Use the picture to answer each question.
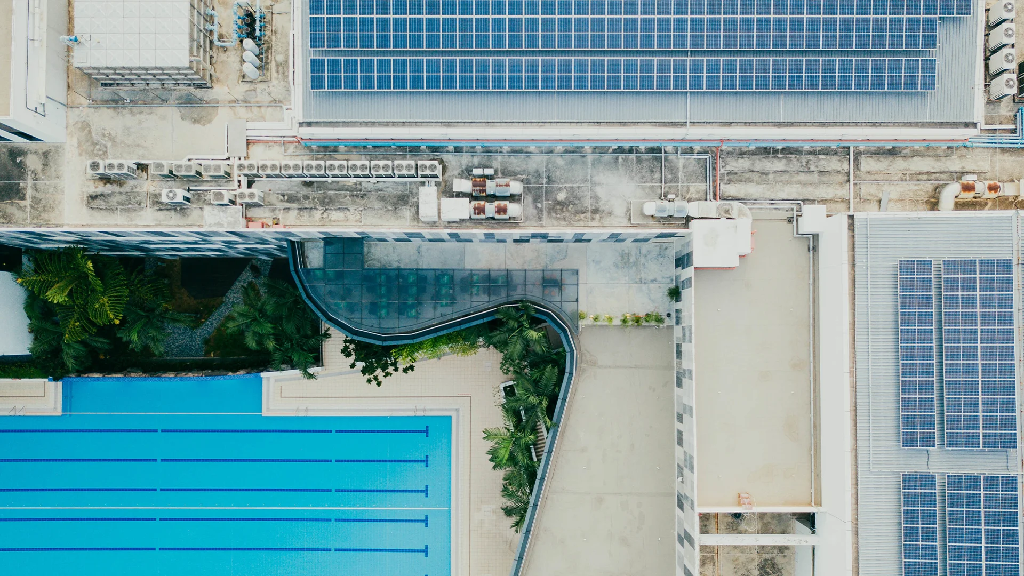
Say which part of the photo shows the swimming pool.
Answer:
bottom left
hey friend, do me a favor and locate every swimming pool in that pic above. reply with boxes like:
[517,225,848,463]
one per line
[0,373,452,576]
